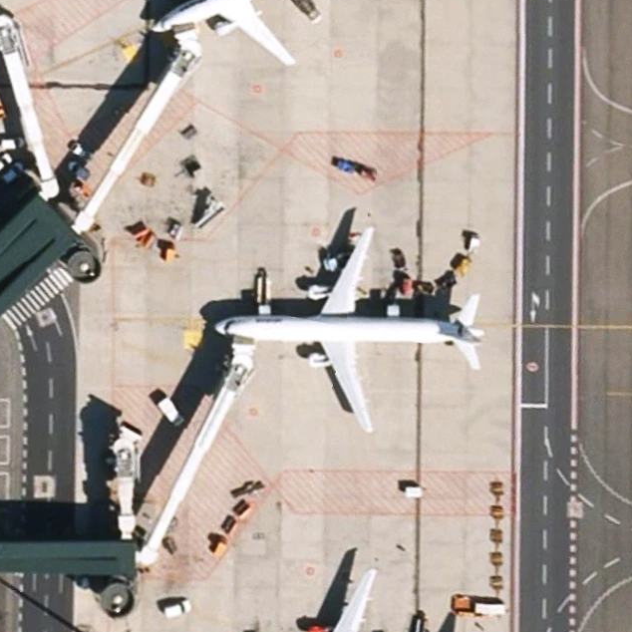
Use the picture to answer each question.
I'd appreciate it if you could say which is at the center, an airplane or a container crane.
airplane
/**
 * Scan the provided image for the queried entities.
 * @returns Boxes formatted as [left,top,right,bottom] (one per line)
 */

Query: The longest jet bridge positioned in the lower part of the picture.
[135,337,252,560]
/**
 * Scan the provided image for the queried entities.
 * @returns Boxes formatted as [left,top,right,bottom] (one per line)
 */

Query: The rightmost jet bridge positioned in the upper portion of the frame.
[74,22,197,242]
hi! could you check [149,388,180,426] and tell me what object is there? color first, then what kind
white truck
